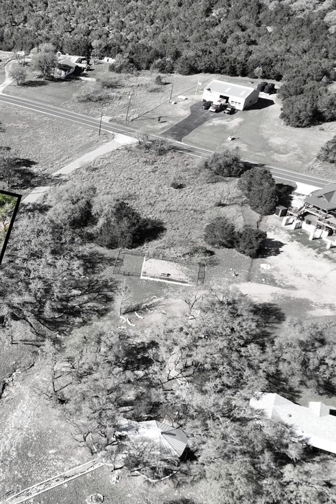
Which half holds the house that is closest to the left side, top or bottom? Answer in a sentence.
The house that is closest to the left side is in the top half of the image.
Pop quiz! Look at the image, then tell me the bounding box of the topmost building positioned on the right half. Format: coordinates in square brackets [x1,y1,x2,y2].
[202,83,258,111]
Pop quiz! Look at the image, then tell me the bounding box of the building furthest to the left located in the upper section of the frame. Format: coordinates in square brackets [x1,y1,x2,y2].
[52,50,94,79]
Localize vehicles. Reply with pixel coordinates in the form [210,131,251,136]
[201,99,212,108]
[209,97,228,112]
[223,106,236,115]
